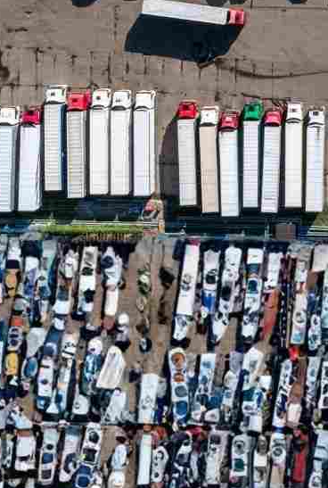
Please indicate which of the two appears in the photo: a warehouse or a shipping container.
shipping container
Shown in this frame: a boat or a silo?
boat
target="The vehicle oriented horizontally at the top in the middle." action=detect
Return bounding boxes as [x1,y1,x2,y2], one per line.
[139,0,245,29]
